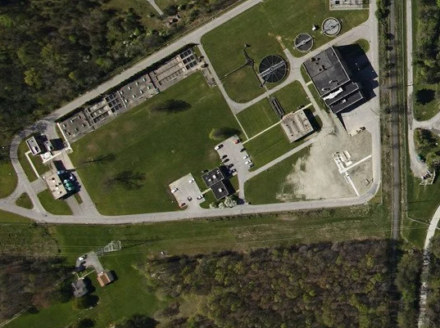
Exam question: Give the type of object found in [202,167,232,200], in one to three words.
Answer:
building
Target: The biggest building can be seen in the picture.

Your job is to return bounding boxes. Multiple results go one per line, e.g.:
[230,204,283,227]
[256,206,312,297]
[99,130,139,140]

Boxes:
[302,46,366,113]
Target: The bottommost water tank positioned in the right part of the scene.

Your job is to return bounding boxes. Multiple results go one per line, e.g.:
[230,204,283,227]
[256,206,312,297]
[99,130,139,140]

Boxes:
[258,55,288,83]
